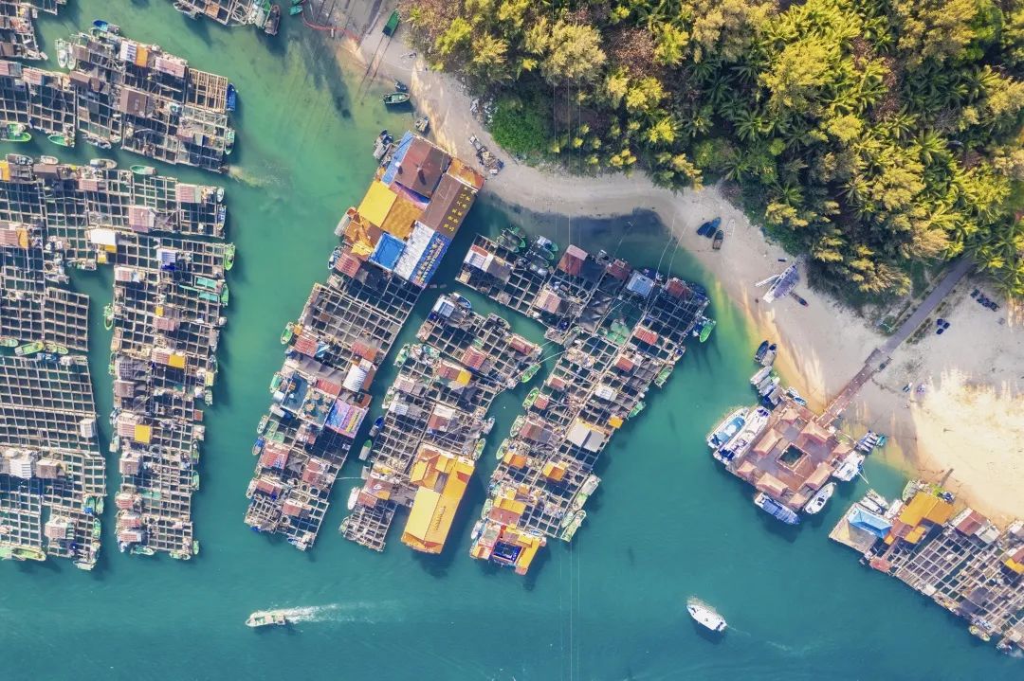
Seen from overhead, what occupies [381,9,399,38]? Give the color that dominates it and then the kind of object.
green boat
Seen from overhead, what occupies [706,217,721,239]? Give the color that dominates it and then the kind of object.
blue boat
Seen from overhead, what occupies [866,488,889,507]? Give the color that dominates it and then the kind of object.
white boat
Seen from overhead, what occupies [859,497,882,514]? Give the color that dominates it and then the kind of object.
white boat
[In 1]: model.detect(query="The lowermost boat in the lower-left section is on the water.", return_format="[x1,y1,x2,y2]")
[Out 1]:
[246,614,288,626]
